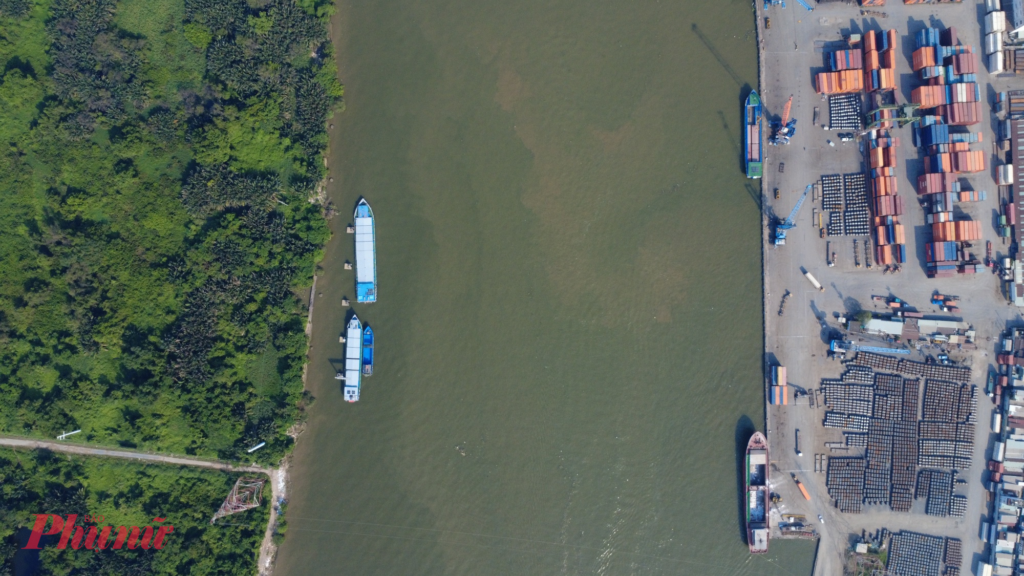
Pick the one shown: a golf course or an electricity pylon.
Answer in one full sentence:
The image shows an electricity pylon.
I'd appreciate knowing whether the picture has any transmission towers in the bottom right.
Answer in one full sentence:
Yes, I can see a transmission tower in the bottom right.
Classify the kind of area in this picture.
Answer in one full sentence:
This image shows a port.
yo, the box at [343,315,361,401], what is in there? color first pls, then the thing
white ship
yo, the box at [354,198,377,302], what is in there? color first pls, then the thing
white ship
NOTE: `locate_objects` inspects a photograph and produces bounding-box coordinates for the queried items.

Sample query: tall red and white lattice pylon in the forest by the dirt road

[210,482,259,526]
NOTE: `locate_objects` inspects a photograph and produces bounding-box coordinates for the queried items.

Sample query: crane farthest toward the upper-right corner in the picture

[864,102,925,129]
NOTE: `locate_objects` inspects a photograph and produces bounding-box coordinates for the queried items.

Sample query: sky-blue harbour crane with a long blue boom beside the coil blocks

[765,185,811,242]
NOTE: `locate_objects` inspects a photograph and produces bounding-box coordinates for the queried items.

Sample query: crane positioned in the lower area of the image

[829,340,912,360]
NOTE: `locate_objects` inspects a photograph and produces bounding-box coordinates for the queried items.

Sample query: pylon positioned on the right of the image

[855,555,894,576]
